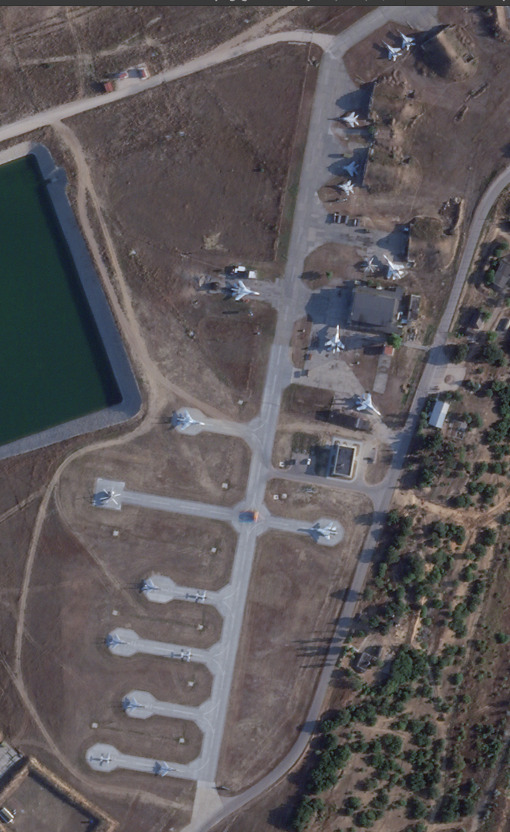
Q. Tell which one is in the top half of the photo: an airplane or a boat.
airplane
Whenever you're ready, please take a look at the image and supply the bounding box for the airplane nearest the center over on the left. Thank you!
[175,411,205,431]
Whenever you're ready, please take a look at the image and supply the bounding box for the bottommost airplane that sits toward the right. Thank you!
[308,522,340,542]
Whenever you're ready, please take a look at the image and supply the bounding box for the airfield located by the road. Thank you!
[89,0,438,780]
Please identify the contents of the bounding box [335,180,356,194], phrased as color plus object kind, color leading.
white airplane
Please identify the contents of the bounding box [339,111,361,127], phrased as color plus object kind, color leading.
white airplane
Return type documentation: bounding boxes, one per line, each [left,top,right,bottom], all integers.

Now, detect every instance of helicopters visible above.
[102,484,120,505]
[363,257,379,274]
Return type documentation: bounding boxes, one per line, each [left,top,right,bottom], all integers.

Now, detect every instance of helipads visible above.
[93,478,125,510]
